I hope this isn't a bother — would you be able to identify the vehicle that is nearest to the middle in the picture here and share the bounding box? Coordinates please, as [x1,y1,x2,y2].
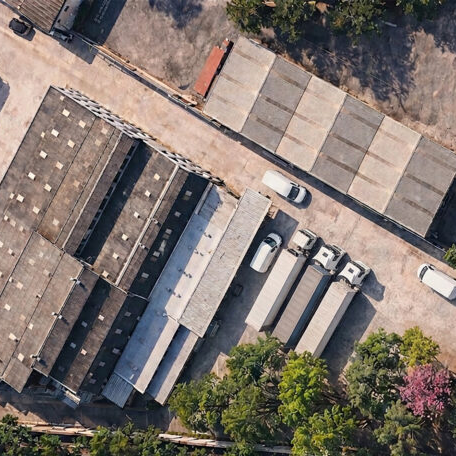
[249,235,280,271]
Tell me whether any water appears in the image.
No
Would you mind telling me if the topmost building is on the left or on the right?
left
